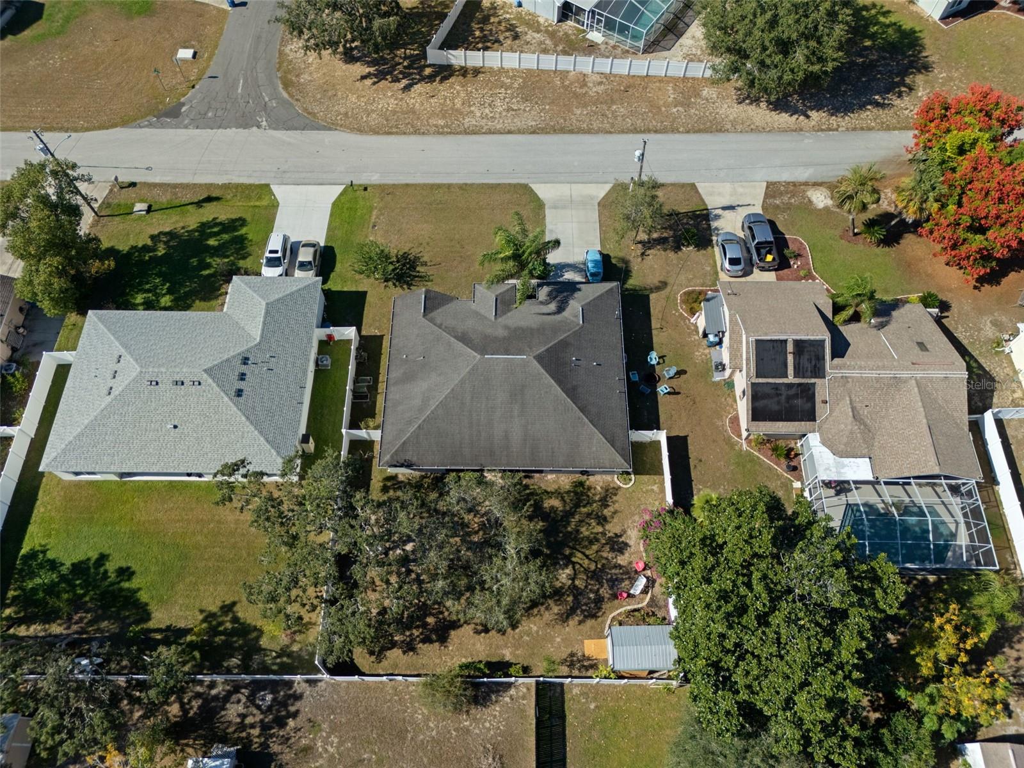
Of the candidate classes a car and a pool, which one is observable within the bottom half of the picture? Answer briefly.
pool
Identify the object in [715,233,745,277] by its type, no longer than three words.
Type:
car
